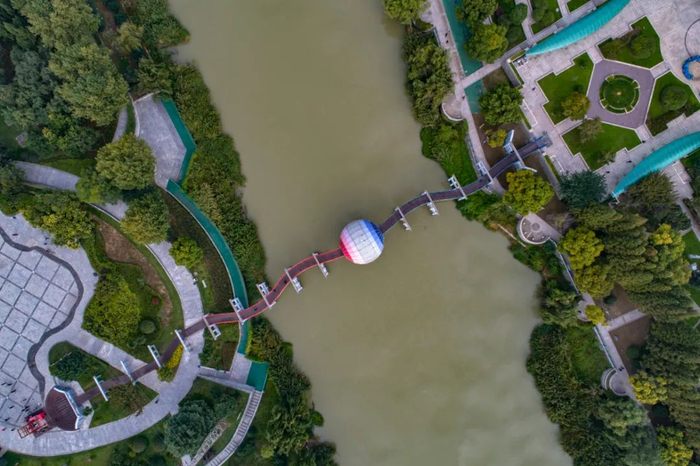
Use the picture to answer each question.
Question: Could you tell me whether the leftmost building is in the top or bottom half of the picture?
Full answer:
It is in the bottom half that the leftmost building appears.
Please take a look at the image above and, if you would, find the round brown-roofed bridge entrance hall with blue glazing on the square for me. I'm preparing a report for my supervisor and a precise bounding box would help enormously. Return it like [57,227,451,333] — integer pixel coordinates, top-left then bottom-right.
[44,387,81,432]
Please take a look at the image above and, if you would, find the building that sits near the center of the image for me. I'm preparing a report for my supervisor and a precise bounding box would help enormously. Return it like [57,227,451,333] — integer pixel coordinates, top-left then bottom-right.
[340,220,384,264]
